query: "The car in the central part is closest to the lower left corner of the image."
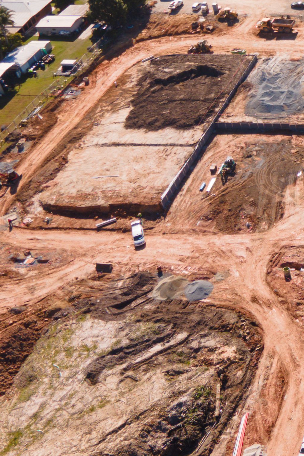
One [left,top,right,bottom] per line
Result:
[130,222,146,244]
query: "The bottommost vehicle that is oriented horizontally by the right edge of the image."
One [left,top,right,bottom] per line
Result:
[256,18,295,33]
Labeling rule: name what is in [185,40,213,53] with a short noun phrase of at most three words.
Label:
vehicle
